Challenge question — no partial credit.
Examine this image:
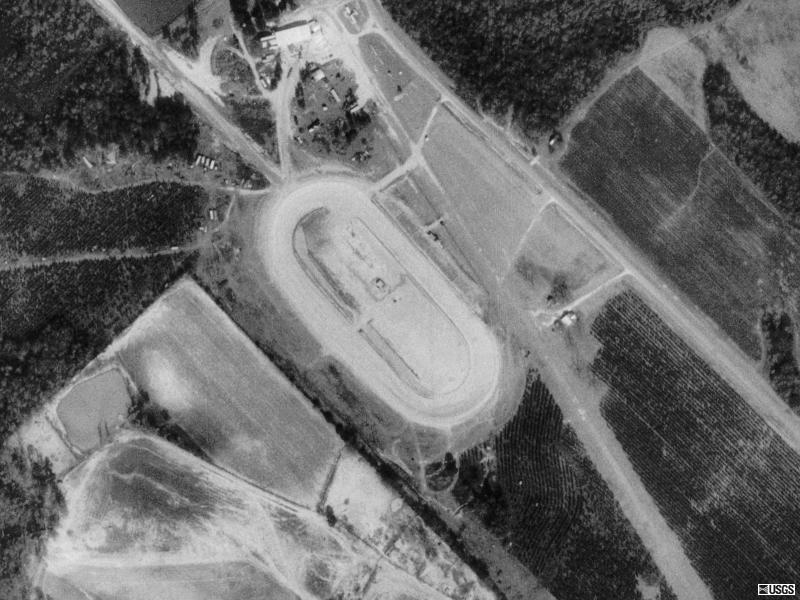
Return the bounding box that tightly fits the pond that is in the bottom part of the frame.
[57,368,131,453]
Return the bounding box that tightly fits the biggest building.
[276,24,312,46]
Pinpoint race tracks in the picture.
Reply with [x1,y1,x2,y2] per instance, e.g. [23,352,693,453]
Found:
[258,177,499,422]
